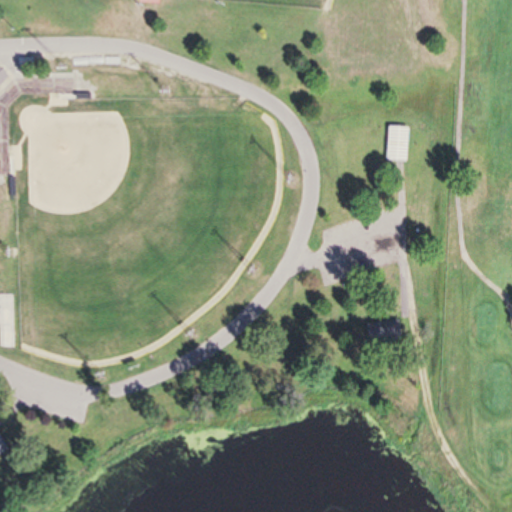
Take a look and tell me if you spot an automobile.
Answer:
No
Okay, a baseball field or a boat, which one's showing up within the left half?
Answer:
baseball field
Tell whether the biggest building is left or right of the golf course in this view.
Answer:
on its left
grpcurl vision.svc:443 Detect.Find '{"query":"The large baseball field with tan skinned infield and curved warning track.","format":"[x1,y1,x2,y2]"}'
[10,94,284,369]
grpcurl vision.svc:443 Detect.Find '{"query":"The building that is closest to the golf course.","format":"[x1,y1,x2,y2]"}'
[386,124,410,162]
